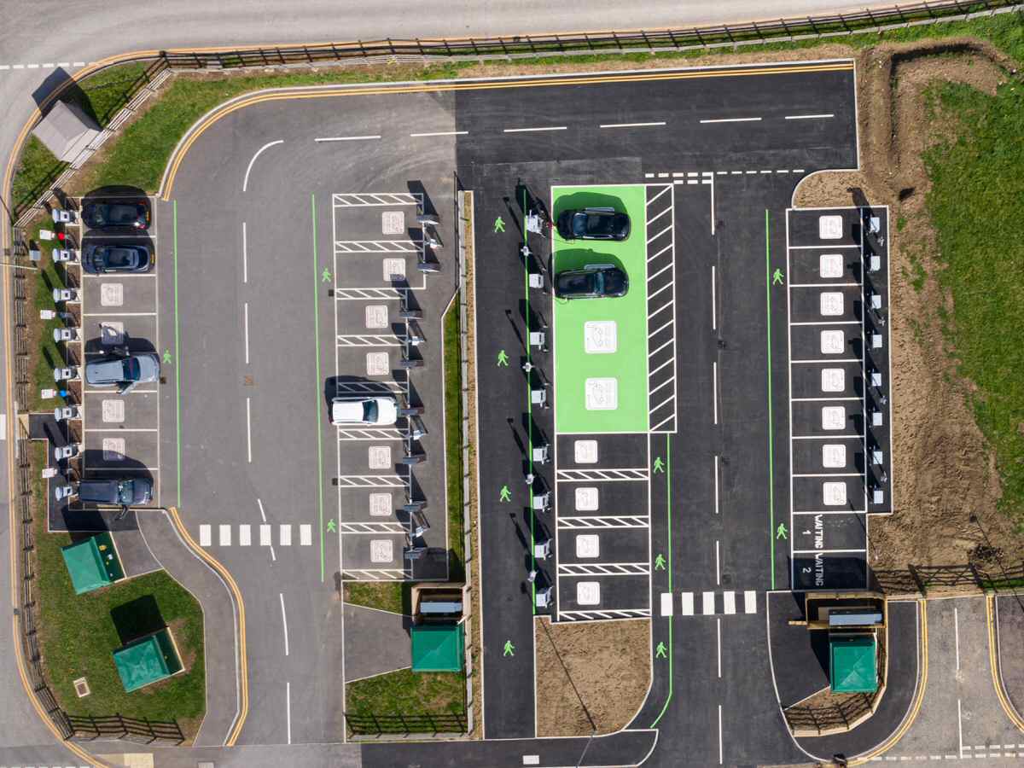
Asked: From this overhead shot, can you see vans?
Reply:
Yes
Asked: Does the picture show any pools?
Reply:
No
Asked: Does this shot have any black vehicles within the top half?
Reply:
Yes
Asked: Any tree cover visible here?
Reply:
No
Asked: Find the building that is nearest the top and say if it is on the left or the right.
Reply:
left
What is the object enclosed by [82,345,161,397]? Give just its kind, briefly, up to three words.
car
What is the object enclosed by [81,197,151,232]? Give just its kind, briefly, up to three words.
car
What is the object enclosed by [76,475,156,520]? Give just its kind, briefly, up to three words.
van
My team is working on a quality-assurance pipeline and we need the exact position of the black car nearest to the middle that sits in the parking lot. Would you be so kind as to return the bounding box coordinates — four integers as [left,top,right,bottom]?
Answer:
[553,264,629,299]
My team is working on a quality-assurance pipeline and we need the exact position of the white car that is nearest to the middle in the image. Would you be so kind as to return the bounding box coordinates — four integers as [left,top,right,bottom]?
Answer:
[330,394,398,429]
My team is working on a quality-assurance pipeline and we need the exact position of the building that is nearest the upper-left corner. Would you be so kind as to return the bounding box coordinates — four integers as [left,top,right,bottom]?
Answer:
[31,100,106,164]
